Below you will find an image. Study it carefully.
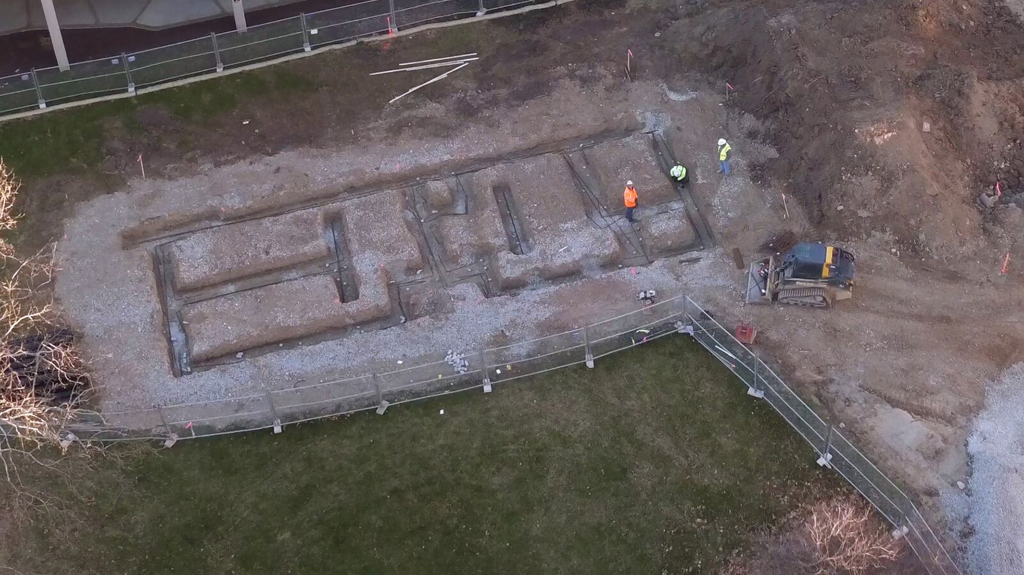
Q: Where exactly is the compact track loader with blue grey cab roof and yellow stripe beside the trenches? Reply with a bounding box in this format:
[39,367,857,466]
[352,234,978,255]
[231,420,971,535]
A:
[744,241,857,308]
